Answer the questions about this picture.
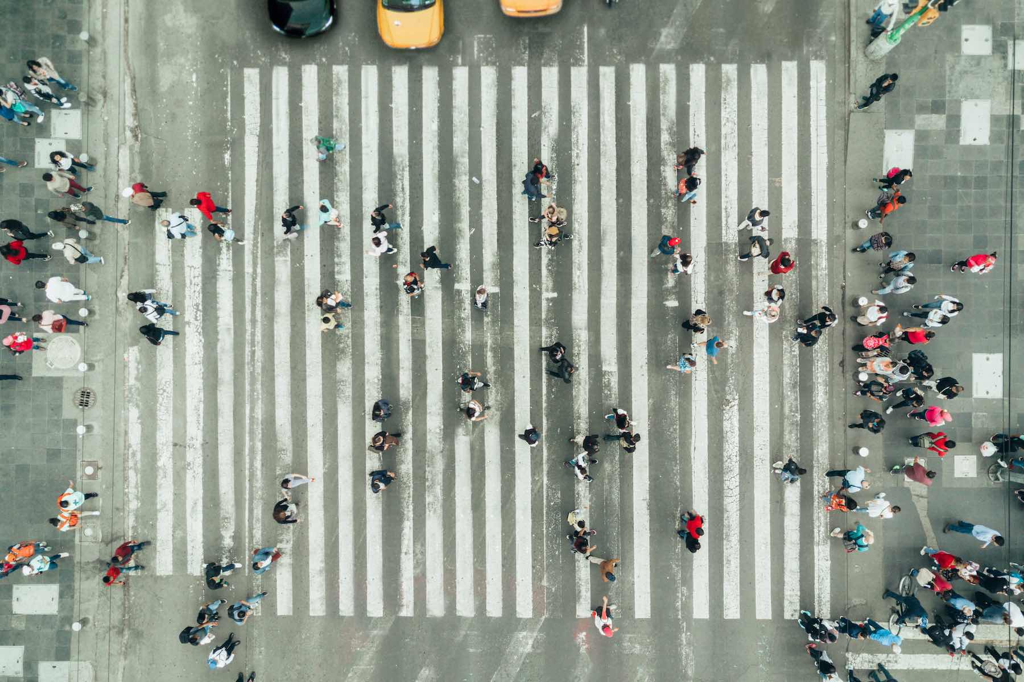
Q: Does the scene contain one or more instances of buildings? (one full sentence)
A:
No, there is no building in the image.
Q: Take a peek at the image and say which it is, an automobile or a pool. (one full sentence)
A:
This aerial view contains an automobile.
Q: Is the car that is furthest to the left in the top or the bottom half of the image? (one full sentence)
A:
It is in the top half that the car that is furthest to the left appears.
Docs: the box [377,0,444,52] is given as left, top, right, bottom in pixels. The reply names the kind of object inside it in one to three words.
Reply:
car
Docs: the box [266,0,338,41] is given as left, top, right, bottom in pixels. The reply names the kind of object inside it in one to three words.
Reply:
car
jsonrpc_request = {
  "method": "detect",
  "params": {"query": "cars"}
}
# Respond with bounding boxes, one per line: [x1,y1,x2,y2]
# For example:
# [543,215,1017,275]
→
[266,0,338,41]
[377,0,444,52]
[501,0,561,21]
